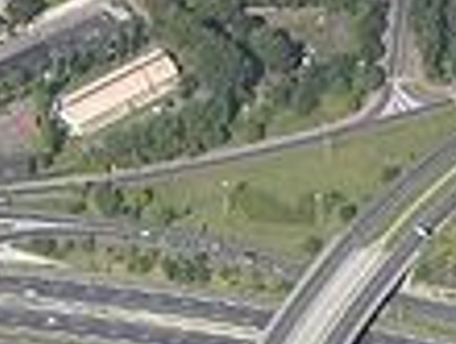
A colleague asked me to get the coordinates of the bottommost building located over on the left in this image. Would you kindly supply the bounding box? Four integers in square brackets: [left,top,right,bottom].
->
[52,49,181,142]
